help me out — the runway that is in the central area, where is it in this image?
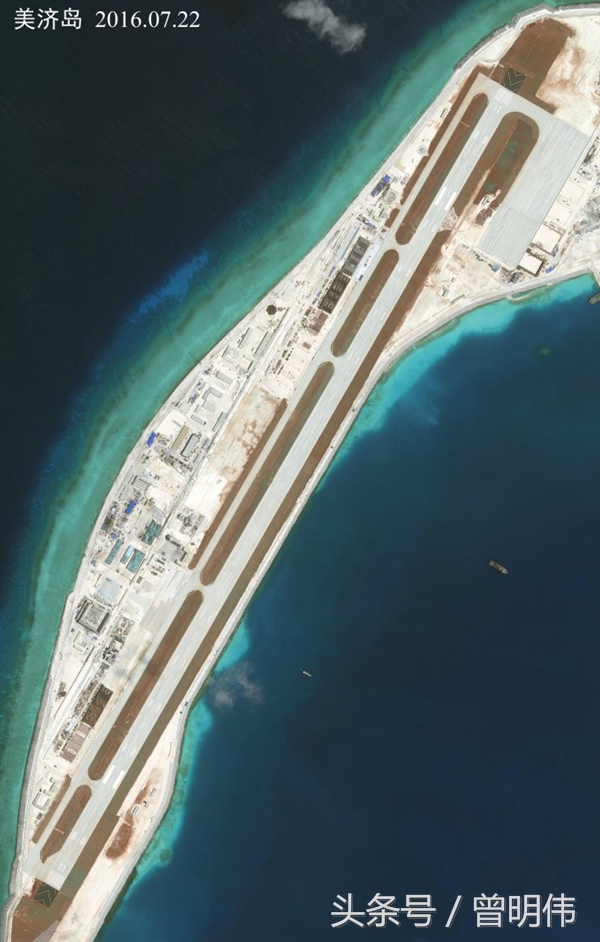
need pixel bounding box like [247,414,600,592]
[42,84,518,890]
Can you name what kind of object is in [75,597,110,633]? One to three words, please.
building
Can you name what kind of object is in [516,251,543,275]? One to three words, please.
hangar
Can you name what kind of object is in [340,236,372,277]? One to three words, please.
building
